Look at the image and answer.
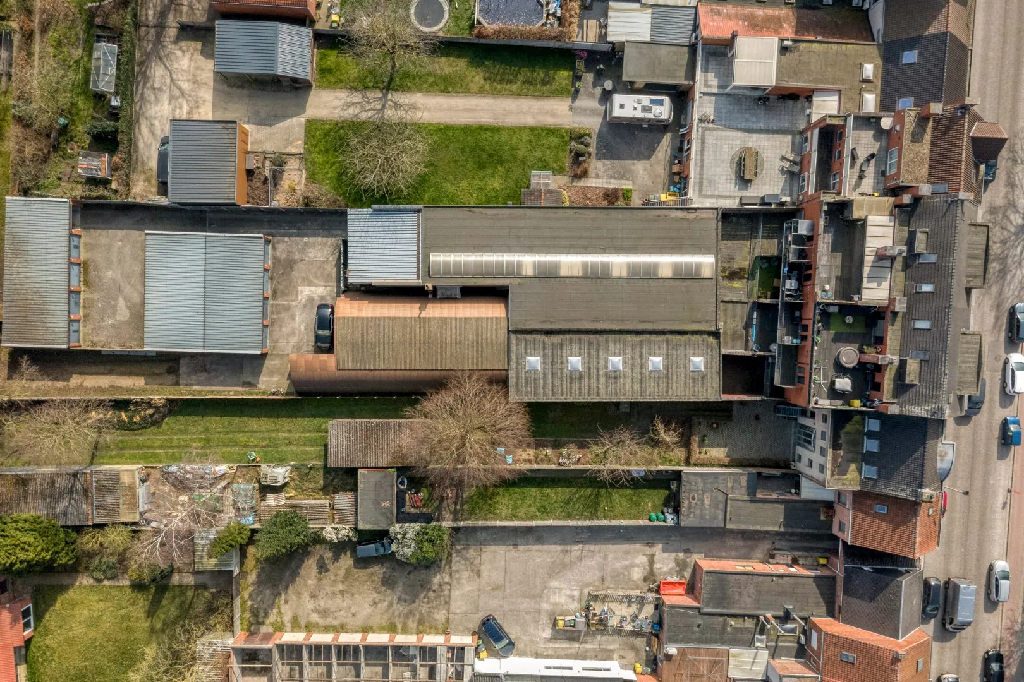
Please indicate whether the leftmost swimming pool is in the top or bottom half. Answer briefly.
top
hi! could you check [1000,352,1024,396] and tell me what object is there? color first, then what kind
white car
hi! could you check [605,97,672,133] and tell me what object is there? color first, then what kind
white van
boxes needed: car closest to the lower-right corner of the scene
[979,645,1007,682]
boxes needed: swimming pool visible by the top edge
[474,0,549,30]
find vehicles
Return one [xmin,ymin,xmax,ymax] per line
[985,159,999,192]
[353,536,391,561]
[979,645,1007,682]
[312,304,332,351]
[997,415,1023,448]
[478,612,515,652]
[965,377,985,418]
[1000,352,1024,396]
[605,97,672,133]
[922,574,943,619]
[941,574,979,631]
[1003,301,1024,345]
[983,558,1012,604]
[153,136,169,183]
